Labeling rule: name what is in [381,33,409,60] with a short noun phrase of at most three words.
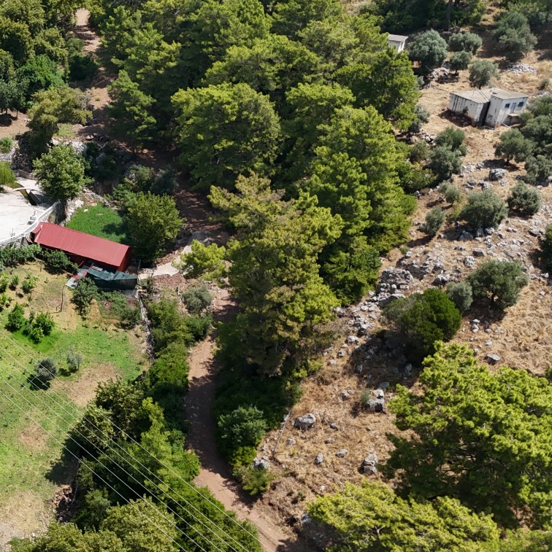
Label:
shed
